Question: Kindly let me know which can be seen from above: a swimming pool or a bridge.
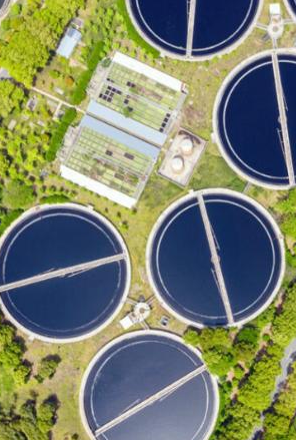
bridge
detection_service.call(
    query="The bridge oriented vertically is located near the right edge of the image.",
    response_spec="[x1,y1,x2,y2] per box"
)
[273,48,295,189]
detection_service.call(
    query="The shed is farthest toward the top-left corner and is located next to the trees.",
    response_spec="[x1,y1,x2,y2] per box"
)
[56,23,90,61]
